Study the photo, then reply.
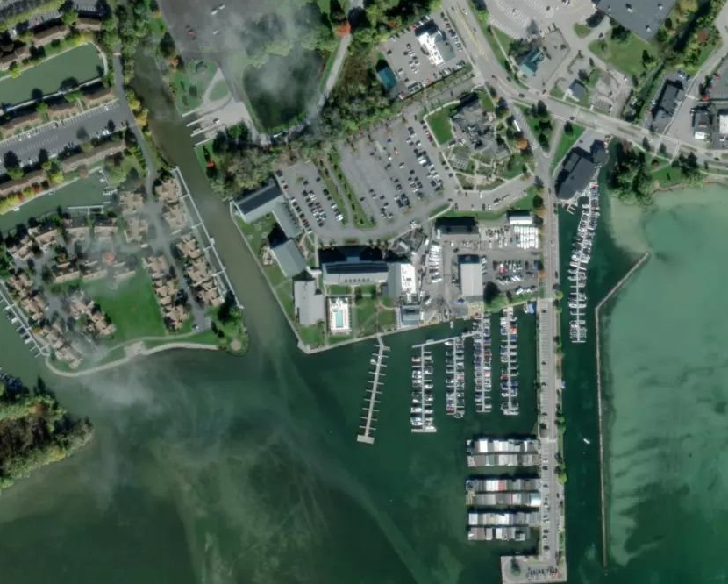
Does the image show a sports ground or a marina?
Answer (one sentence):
What you see here is a marina.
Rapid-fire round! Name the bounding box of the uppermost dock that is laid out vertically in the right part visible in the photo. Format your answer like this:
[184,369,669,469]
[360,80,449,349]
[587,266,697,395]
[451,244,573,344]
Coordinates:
[570,184,595,342]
